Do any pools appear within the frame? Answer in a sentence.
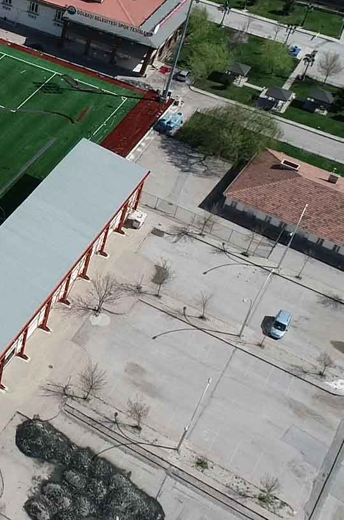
No, I can't see a single pool in this photo.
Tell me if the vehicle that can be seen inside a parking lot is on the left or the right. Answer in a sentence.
It is on the right.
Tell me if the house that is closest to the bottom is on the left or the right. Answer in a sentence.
The house that is closest to the bottom sits on the right side.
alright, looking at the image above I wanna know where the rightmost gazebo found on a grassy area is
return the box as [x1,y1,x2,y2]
[304,87,341,117]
